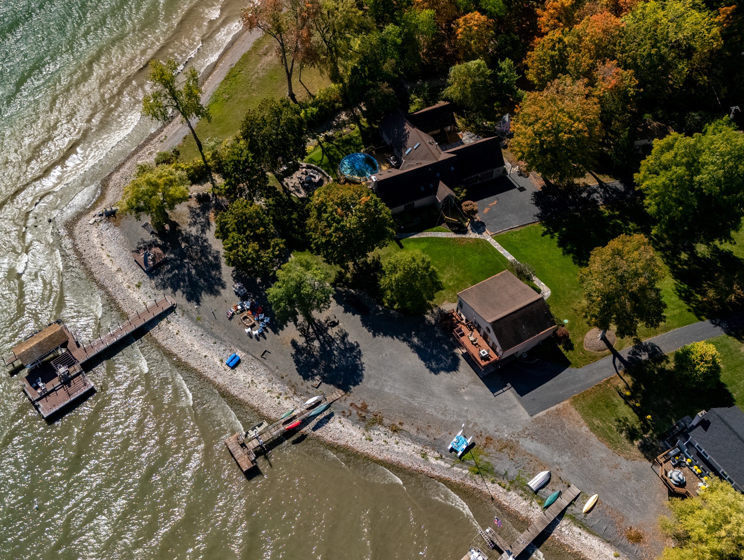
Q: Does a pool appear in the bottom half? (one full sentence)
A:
No, no pool is visible in the bottom half.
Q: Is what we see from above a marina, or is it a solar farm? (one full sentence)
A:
The area seen from above is a marina.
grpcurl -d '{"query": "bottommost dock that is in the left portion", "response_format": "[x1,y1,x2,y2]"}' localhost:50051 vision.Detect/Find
[225,390,347,476]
